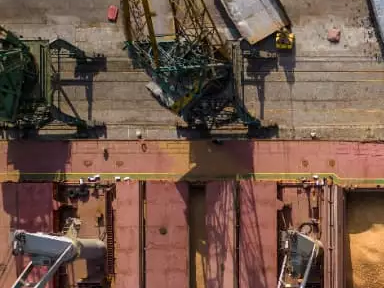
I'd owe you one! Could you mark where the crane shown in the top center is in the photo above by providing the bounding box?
[122,0,280,129]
